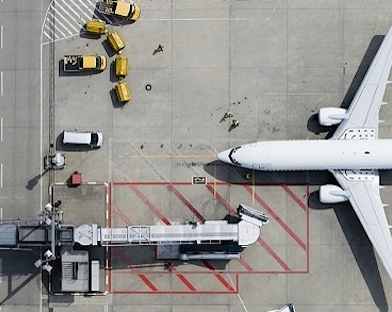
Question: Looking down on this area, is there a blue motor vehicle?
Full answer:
No, the frame has no blue motor vehicle in it.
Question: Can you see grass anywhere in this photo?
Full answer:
No, there is no grass in the image.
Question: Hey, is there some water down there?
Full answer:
No, water can't be seen anywhere here.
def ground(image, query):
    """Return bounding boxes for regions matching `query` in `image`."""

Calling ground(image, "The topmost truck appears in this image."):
[97,0,142,22]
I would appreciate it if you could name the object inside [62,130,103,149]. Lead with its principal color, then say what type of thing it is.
white vehicle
